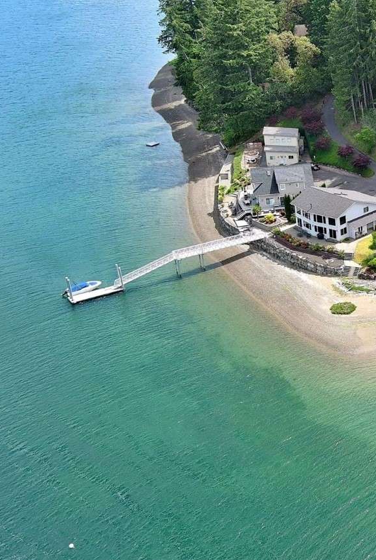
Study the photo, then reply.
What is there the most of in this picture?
water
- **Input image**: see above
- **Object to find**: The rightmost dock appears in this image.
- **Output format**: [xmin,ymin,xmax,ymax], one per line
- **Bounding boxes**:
[172,227,266,279]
